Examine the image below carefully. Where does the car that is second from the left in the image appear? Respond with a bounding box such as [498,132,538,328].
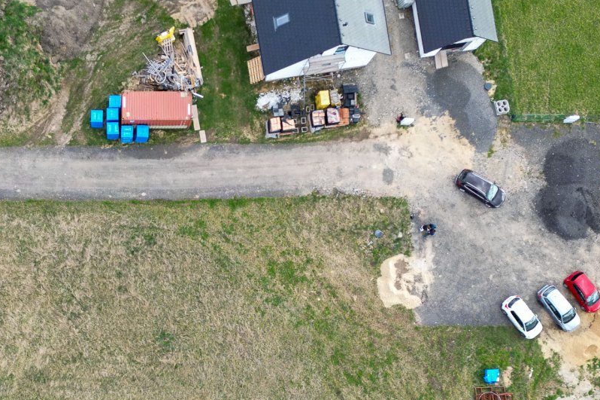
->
[501,294,542,340]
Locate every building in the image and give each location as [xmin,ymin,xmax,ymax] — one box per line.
[409,0,499,59]
[247,0,392,84]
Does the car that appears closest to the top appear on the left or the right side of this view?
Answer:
right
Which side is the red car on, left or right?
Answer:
right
